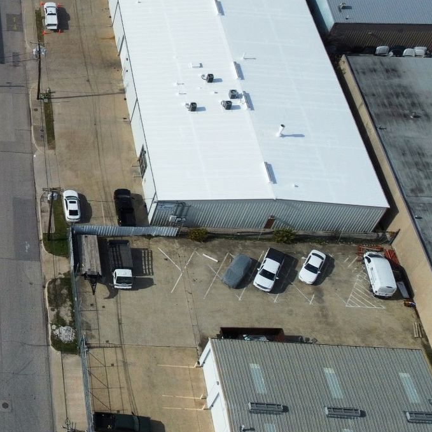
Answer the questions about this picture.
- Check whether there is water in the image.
No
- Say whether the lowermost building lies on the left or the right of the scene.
right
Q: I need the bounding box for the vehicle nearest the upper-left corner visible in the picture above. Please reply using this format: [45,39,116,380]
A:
[43,2,60,32]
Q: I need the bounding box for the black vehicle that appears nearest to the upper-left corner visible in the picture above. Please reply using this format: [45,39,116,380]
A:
[112,186,138,222]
